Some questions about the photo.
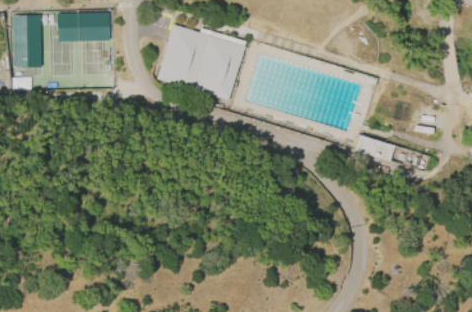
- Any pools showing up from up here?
Yes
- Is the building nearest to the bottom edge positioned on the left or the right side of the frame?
right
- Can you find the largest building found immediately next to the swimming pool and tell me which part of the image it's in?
top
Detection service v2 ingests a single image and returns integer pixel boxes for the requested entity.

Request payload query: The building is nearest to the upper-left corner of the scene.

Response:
[13,14,43,67]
